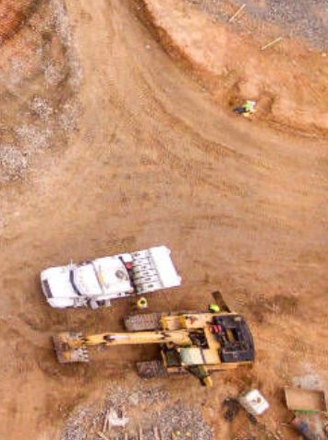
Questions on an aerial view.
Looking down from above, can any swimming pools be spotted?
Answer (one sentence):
No, there appears to be no swimming pool in this shot.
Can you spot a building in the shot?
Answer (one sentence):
No, I can see no building in this picture.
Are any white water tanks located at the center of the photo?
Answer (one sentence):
No, there is no white water tank at the center of the photo.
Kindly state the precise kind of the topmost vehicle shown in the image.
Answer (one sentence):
Looking closely, the topmost vehicle is a truck.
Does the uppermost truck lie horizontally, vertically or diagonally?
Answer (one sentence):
In this picture, the uppermost truck is oriented horizontally.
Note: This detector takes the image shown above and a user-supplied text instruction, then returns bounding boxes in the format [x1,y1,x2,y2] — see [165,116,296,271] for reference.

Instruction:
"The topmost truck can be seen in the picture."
[33,242,193,308]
